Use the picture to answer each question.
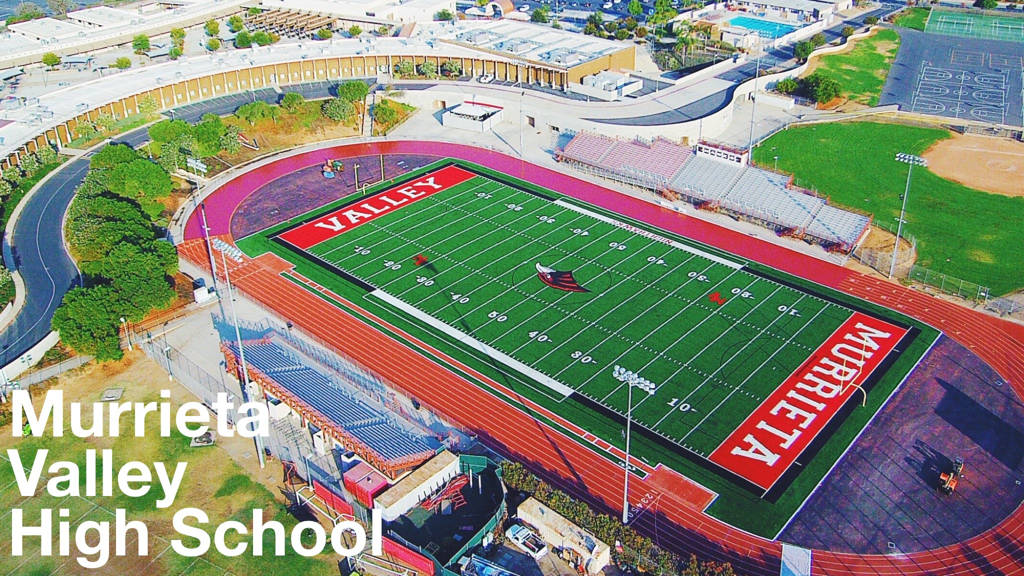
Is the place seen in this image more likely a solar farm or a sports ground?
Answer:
sports ground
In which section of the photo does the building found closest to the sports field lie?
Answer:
top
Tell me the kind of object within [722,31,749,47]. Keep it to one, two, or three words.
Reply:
building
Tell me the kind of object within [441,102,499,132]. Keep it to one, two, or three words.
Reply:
building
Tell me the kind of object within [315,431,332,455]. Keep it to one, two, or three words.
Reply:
shed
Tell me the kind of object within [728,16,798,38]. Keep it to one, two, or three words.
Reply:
swimming pool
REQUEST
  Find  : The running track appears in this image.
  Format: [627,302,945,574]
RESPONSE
[179,138,1024,576]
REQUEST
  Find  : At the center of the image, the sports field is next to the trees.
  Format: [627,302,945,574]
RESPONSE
[236,158,946,539]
